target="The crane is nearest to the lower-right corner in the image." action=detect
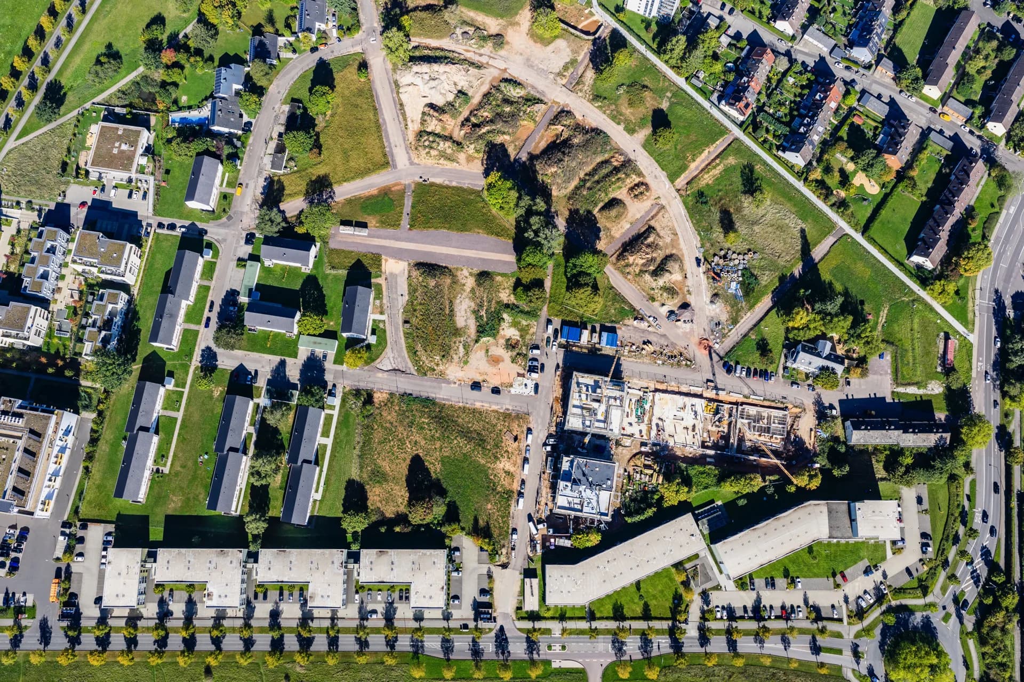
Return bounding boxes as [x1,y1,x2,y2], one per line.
[712,405,798,484]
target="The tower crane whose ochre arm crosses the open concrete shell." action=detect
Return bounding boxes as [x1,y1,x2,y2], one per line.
[576,351,619,463]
